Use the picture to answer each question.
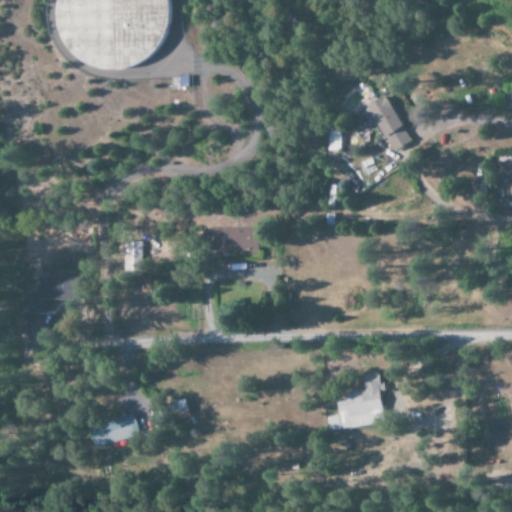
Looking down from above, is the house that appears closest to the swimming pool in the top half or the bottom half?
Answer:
top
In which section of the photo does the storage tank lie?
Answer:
top left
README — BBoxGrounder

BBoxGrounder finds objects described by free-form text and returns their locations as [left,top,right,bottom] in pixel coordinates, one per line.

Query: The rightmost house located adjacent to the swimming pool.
[368,95,412,154]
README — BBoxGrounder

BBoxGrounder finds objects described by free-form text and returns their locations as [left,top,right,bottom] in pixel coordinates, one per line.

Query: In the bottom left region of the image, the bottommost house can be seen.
[90,414,140,446]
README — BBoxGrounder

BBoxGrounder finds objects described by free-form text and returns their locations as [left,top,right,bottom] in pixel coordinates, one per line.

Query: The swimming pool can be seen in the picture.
[346,90,364,110]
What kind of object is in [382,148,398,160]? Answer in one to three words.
vehicle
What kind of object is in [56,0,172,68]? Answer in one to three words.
storage tank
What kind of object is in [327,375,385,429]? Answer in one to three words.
house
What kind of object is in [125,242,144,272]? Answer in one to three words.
house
